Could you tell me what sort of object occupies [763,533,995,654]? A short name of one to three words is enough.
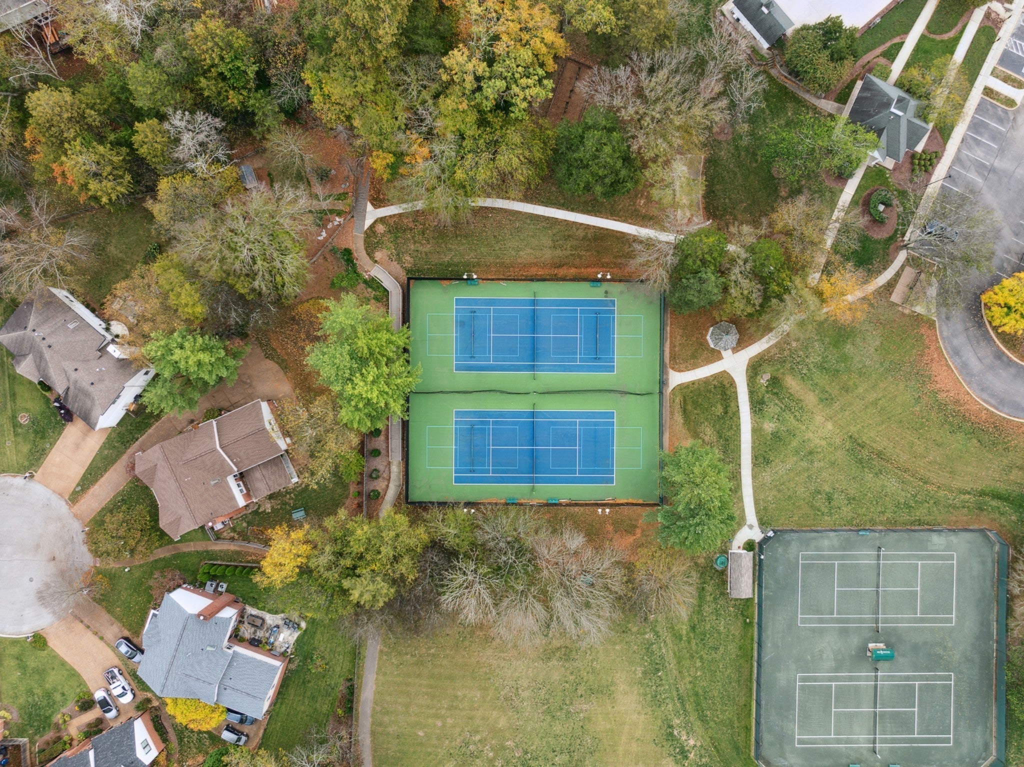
tennis court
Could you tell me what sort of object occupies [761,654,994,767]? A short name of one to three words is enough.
tennis court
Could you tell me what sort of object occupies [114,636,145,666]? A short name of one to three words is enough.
car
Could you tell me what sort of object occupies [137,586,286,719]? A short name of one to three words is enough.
house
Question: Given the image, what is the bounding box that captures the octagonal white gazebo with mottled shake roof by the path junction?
[704,320,740,353]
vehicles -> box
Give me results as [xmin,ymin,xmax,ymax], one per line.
[217,723,251,745]
[223,707,258,728]
[114,636,145,666]
[103,663,135,704]
[94,687,120,720]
